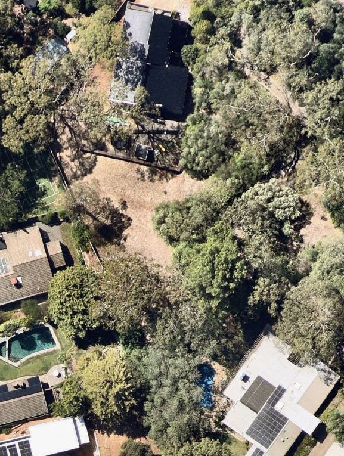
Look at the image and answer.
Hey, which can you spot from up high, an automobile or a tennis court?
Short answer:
tennis court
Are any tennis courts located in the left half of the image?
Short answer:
Yes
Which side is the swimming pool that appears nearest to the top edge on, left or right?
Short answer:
left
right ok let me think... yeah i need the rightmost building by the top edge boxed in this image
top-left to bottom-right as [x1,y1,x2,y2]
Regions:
[109,2,189,115]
